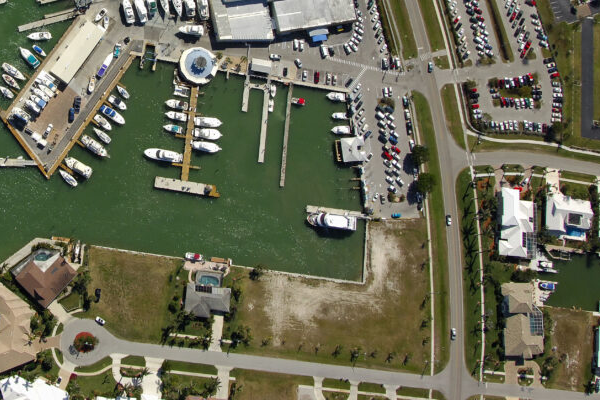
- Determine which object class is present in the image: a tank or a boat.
boat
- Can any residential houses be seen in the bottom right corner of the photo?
Yes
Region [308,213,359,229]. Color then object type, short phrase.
white boat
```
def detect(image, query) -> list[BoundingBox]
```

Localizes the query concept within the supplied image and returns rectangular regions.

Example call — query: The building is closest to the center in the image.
[339,136,366,162]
